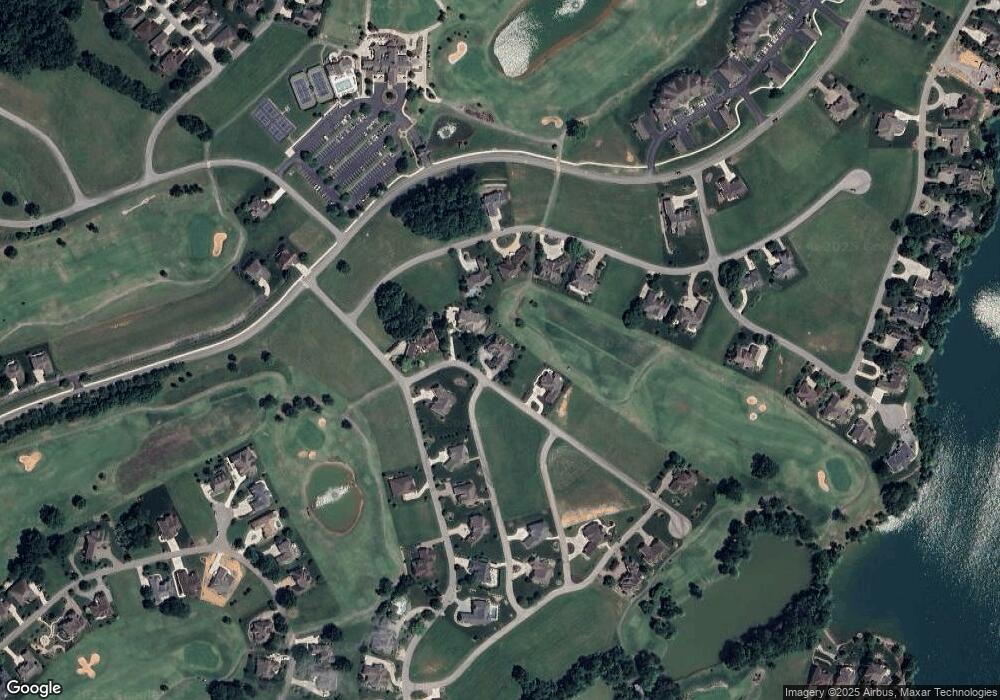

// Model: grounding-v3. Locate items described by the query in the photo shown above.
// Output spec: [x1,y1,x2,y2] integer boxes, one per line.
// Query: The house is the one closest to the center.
[482,334,519,371]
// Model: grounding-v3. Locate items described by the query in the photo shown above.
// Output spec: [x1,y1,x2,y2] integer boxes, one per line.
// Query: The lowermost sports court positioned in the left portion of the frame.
[249,97,296,144]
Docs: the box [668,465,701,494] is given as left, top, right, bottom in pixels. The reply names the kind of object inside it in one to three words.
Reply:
house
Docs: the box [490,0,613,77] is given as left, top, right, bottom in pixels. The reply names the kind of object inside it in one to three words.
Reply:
pond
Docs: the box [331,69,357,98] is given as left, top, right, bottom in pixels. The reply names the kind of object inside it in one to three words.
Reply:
swimming pool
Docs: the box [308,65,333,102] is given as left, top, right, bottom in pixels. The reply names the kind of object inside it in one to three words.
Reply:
tennis court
